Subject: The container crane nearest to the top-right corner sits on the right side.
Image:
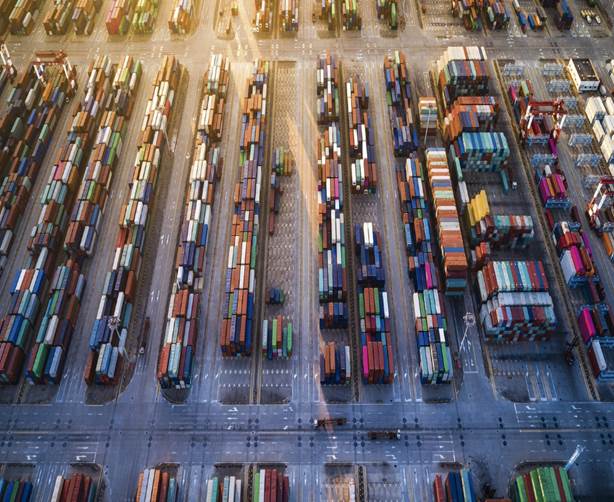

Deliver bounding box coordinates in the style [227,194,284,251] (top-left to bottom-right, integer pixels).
[519,98,574,144]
